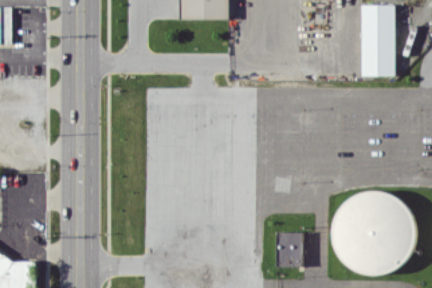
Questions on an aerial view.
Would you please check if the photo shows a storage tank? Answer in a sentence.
Yes, the picture does show a storage tank.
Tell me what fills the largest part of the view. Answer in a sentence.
What you mostly see from above here is paved ground.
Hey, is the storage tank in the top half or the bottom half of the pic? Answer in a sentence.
The storage tank is in the bottom half of the image.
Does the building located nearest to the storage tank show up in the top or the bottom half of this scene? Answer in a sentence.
Seen from above, the building located nearest to the storage tank lies in the bottom half of the view.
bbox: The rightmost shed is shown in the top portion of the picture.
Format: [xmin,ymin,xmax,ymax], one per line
[362,5,395,76]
